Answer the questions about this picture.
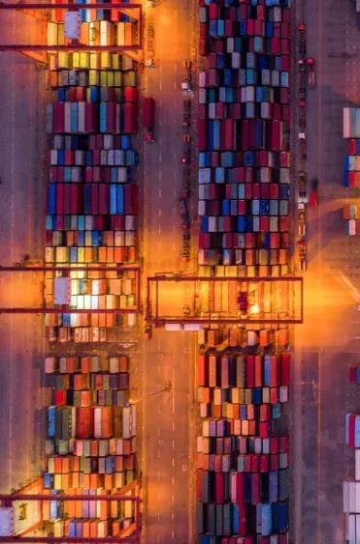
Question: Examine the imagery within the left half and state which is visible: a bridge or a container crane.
container crane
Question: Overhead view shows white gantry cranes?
No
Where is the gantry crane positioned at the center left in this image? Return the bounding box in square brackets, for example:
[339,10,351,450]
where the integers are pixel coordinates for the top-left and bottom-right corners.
[0,255,150,318]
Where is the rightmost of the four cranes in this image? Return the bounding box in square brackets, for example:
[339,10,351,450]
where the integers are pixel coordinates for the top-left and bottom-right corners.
[147,265,304,331]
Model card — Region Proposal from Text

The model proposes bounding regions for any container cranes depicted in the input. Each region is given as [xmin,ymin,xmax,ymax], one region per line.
[0,2,152,68]
[0,473,149,544]
[147,265,304,331]
[0,255,150,318]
